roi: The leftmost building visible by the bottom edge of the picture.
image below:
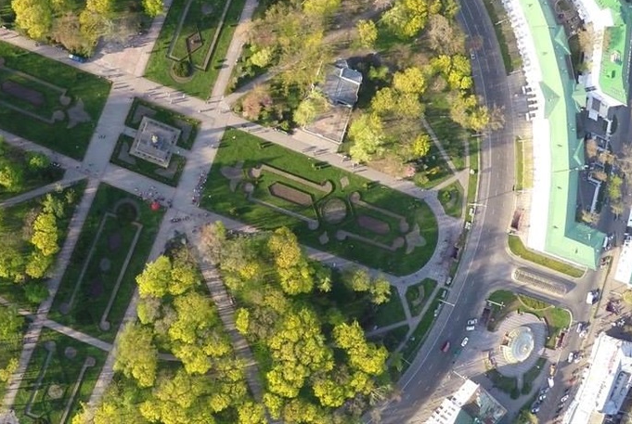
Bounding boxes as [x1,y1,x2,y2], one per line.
[428,375,507,424]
